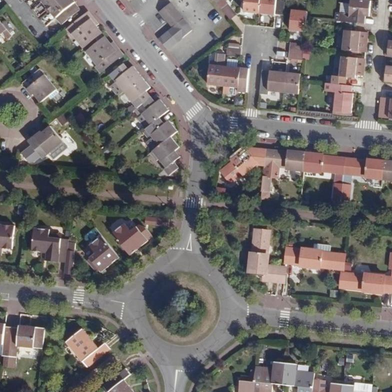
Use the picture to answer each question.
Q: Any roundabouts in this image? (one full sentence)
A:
Yes, there is a roundabout in the image.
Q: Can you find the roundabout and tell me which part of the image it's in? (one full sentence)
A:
The roundabout appears toward the bottom of the photo.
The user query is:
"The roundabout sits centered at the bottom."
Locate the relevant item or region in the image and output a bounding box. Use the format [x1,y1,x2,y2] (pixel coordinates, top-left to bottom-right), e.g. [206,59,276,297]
[96,196,272,383]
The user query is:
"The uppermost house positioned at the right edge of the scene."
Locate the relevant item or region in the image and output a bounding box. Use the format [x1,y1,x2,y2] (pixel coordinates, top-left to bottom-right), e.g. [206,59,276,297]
[336,0,374,26]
